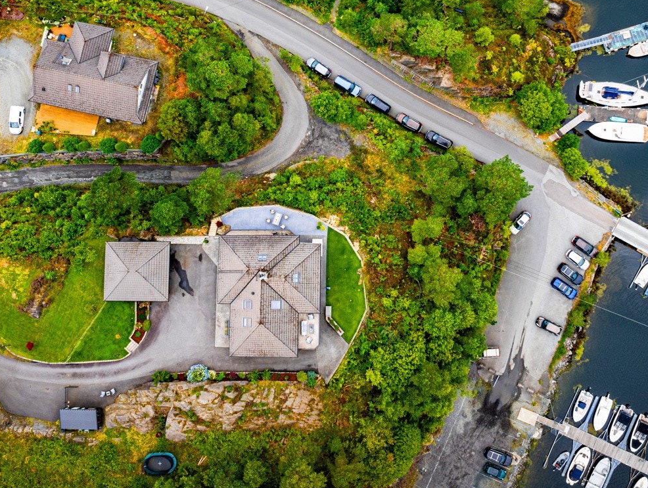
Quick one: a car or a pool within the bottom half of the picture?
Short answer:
car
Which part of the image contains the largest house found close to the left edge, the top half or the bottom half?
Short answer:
top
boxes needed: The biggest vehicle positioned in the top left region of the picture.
[7,105,26,135]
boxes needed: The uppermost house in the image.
[29,22,160,136]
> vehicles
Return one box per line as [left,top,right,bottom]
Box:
[569,232,601,256]
[508,208,534,236]
[555,262,586,286]
[481,459,510,481]
[483,445,516,467]
[562,248,594,271]
[364,91,393,114]
[471,345,502,361]
[547,277,579,302]
[533,315,565,337]
[395,111,425,134]
[424,128,454,150]
[306,57,332,77]
[7,105,26,135]
[332,73,363,97]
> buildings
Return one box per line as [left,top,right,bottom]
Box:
[103,241,171,301]
[29,22,160,136]
[217,230,322,358]
[61,408,101,429]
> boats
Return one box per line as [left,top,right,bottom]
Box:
[595,389,615,430]
[611,400,635,442]
[587,119,648,140]
[564,447,592,487]
[632,412,648,452]
[574,385,594,421]
[552,451,569,474]
[633,477,648,488]
[627,39,648,54]
[577,78,648,106]
[586,458,610,488]
[635,265,648,290]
